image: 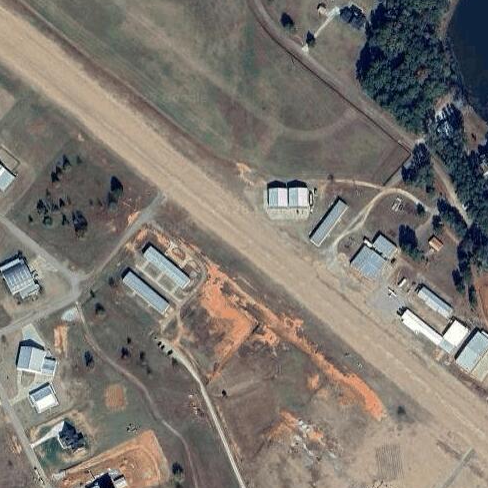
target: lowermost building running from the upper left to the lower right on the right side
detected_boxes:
[402,310,442,346]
